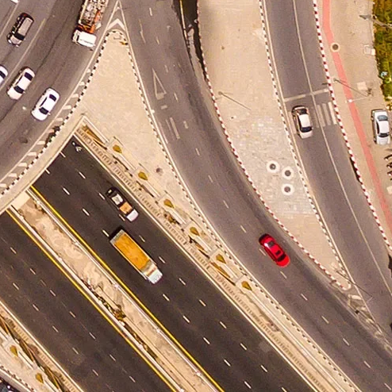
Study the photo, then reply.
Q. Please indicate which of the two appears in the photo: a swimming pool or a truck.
truck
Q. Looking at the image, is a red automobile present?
Yes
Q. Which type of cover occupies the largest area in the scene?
paved ground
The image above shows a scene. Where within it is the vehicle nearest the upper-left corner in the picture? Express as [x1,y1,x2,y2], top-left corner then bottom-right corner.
[8,12,31,45]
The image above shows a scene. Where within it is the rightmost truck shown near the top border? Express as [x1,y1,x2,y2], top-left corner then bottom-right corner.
[72,0,105,44]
